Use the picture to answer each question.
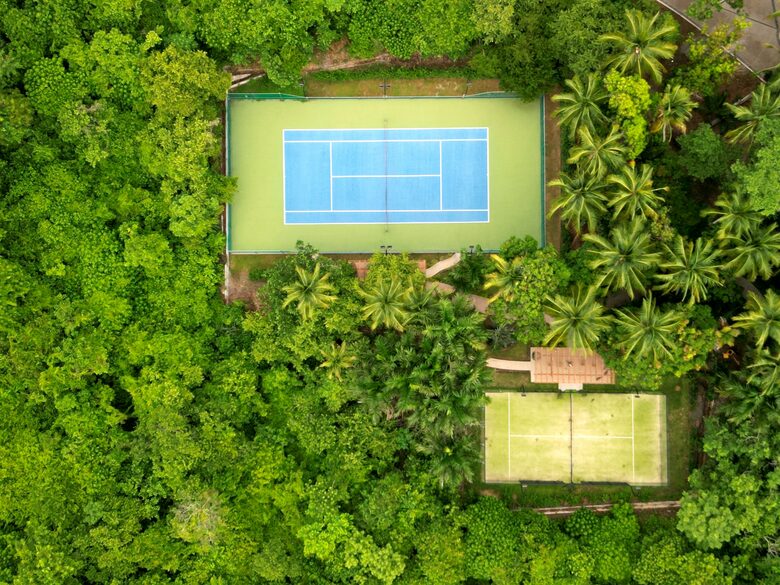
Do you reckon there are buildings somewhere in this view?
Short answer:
No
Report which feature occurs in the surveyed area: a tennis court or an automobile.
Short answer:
tennis court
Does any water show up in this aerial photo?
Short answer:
No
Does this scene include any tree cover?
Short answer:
Yes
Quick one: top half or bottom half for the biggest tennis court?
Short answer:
top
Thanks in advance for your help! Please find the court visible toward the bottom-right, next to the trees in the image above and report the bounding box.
[484,390,661,484]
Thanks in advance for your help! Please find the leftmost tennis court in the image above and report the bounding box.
[231,97,542,252]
